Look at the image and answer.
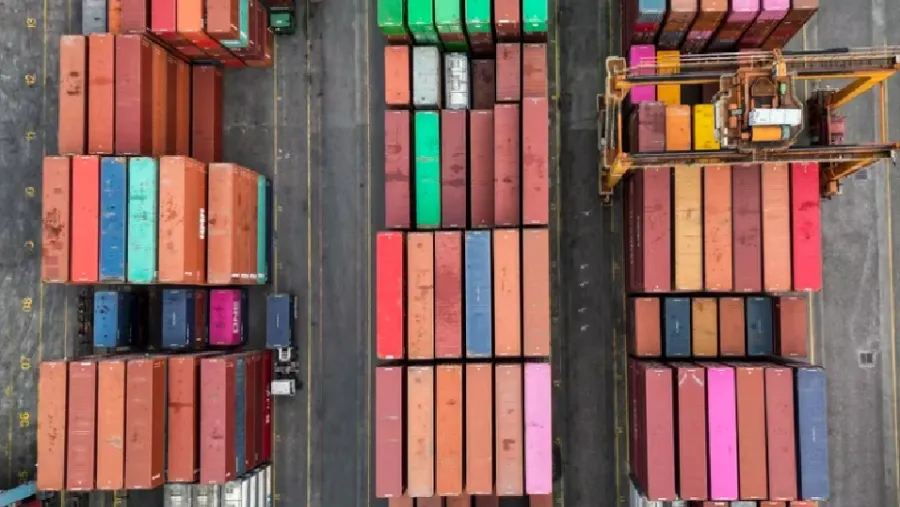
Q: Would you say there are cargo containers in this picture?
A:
Yes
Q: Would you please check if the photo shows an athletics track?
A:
No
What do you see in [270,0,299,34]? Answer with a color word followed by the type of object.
green truck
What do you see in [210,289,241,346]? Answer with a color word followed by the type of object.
pink shipping container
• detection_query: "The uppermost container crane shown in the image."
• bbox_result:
[587,45,900,209]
